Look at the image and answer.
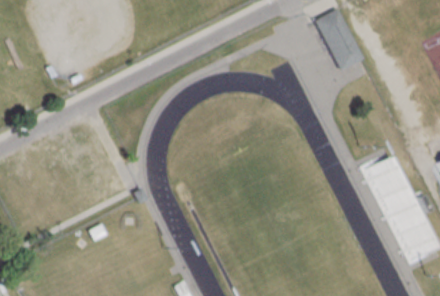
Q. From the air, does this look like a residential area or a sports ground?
sports ground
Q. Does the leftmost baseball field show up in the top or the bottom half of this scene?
top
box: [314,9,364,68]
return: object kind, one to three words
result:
building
